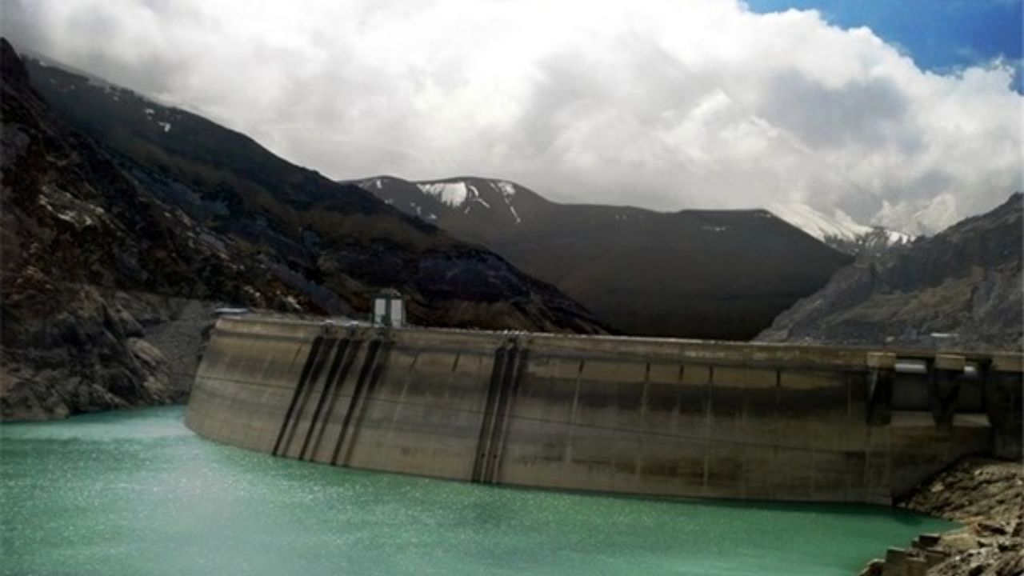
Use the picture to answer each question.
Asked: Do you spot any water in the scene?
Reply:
Yes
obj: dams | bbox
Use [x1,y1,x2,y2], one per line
[180,317,1024,507]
